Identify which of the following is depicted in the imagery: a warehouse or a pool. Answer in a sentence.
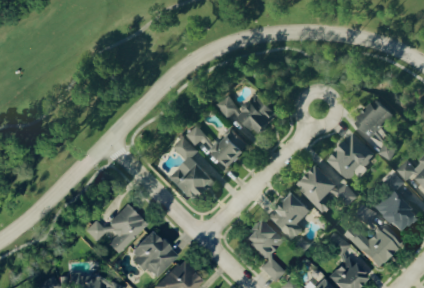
Looking from above, you can make out a pool.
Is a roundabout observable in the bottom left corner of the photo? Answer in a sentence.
No, I can find no roundabout in the bottom left corner of the photo.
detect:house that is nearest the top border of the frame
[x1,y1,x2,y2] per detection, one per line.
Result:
[216,96,272,128]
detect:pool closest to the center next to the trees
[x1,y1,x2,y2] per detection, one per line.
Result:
[204,114,228,138]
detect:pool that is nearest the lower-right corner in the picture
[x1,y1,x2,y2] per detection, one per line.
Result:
[299,270,321,286]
